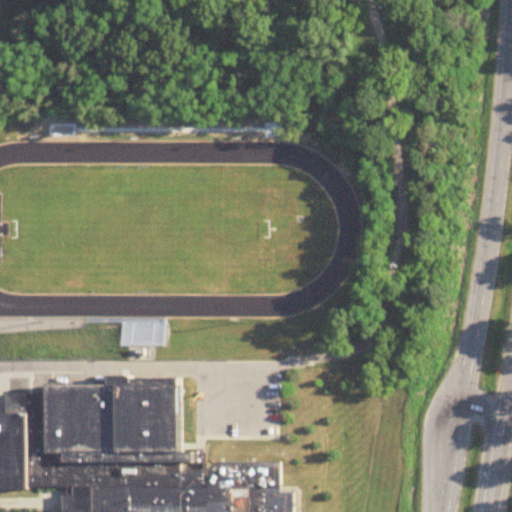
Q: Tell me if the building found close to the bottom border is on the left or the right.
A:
left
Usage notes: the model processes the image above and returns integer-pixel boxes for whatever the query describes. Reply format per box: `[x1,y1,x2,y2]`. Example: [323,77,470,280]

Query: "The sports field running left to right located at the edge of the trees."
[0,164,340,294]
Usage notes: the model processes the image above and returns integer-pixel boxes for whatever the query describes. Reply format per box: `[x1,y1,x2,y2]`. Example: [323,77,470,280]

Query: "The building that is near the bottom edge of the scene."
[0,376,296,512]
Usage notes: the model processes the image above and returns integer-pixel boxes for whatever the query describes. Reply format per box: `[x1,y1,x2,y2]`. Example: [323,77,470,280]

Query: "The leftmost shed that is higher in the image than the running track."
[52,124,79,138]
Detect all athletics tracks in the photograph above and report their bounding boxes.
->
[0,141,362,318]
